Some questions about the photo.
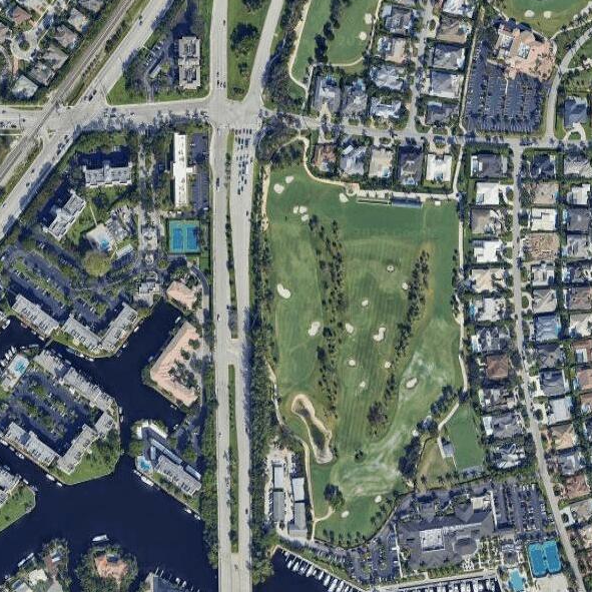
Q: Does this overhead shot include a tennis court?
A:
Yes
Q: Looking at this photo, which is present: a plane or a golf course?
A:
golf course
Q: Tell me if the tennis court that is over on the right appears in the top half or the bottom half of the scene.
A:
bottom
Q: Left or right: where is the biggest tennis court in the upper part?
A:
left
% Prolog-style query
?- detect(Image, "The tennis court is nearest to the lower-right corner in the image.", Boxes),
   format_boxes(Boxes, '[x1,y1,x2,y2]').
[528,539,562,577]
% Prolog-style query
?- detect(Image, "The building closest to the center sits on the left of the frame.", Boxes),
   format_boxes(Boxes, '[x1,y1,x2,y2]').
[167,281,196,311]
